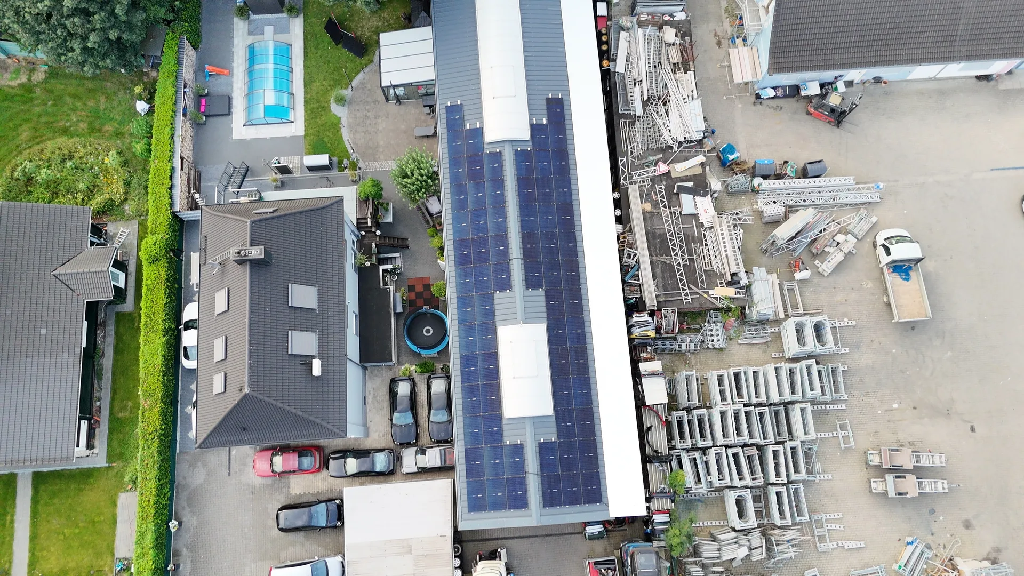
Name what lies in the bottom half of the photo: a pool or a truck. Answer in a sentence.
What appears in the bottom half of the photo is a truck.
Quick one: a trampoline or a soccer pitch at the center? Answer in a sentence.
You can see a trampoline at the center.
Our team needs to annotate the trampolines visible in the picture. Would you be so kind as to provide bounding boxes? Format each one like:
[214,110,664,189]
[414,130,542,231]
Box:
[403,310,446,361]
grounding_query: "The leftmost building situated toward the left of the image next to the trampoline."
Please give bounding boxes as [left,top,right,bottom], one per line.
[194,183,398,451]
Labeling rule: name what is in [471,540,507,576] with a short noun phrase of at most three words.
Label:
van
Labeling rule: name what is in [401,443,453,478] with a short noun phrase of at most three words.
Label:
car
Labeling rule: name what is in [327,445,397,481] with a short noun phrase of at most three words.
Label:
car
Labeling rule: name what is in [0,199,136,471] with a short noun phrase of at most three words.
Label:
house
